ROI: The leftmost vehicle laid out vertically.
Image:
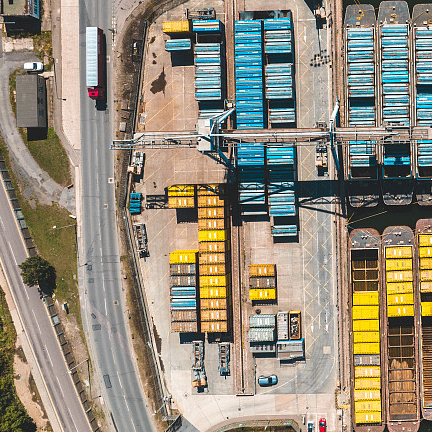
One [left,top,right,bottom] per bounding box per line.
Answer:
[85,23,103,97]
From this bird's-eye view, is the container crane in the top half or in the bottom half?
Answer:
top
